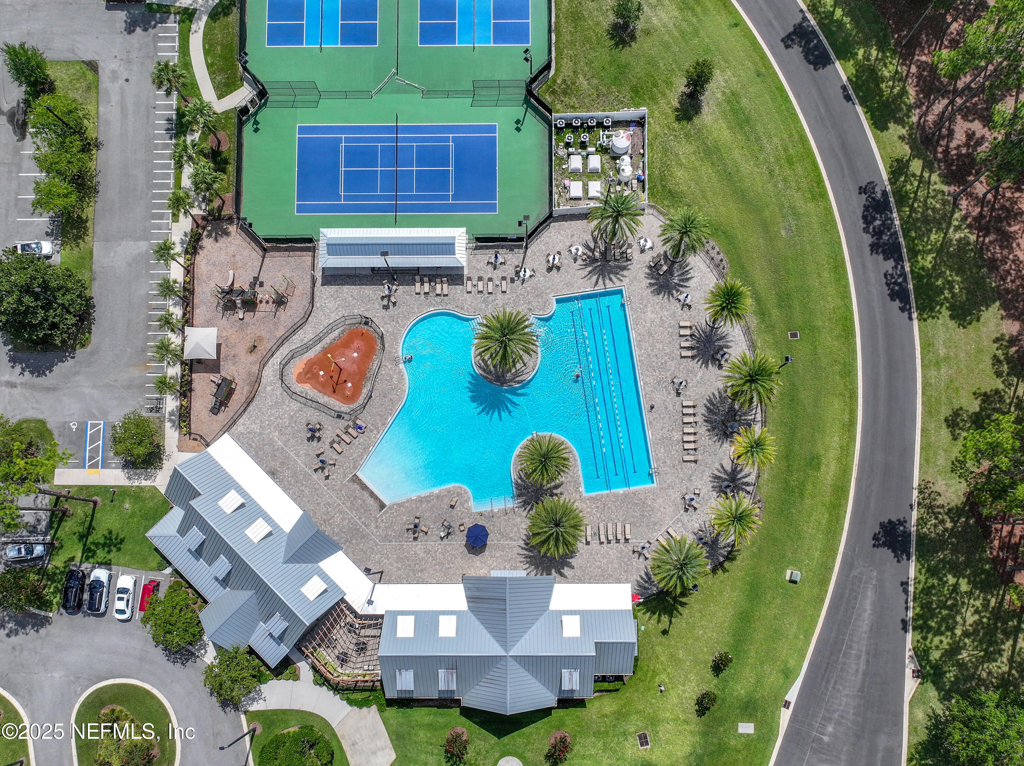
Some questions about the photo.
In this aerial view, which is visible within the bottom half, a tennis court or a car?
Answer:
car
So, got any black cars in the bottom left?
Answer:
Yes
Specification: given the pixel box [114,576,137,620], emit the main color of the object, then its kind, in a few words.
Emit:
white car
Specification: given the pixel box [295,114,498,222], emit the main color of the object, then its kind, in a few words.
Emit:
blue tennis court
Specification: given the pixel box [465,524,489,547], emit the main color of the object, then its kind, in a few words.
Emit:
blue umbrella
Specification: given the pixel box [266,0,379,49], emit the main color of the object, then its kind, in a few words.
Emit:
blue sports court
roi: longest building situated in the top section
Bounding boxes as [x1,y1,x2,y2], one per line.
[319,227,466,269]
